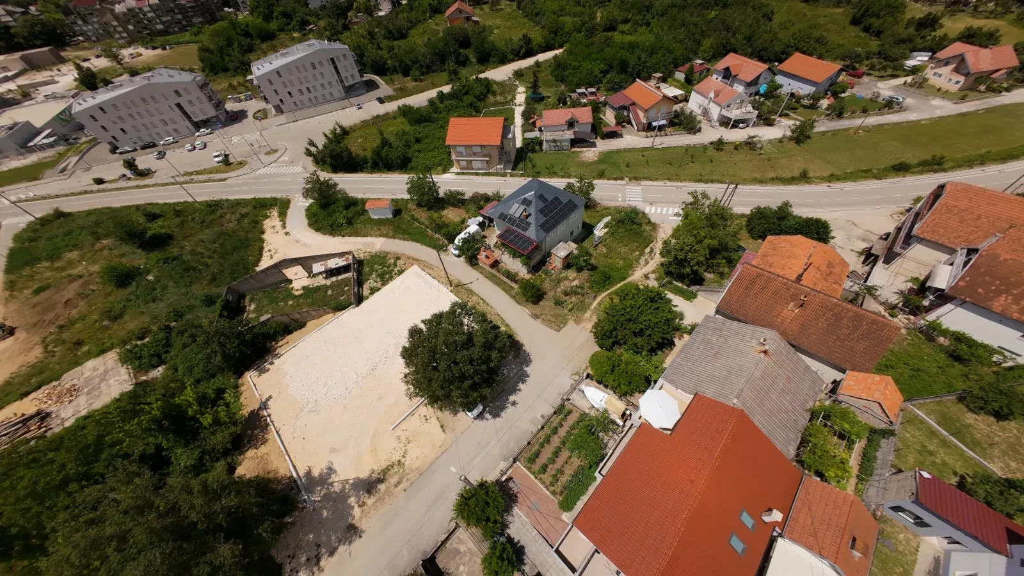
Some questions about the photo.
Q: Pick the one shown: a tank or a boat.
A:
boat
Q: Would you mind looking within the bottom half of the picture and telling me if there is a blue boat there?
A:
No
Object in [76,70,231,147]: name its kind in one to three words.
building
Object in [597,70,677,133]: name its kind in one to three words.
house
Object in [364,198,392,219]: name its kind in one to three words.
shed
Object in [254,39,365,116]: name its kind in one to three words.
building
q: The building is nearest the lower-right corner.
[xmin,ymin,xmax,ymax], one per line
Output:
[858,471,1024,576]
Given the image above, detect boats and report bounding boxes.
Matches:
[583,381,634,421]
